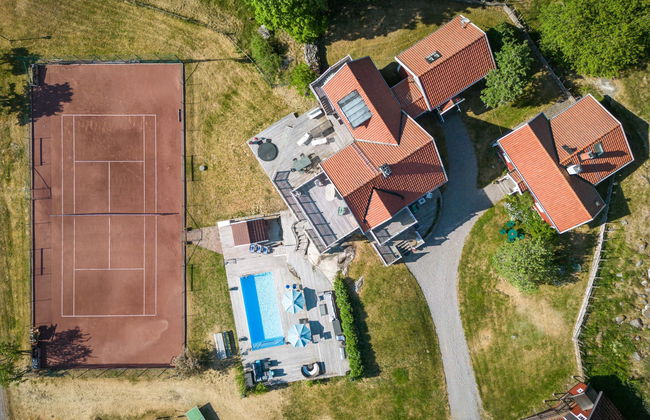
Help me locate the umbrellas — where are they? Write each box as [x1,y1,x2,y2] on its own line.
[288,322,311,346]
[281,288,306,313]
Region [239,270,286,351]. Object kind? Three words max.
swimming pool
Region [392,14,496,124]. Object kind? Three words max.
house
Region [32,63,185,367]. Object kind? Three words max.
tennis court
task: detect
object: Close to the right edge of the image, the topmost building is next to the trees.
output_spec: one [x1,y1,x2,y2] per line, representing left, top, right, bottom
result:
[482,93,634,235]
